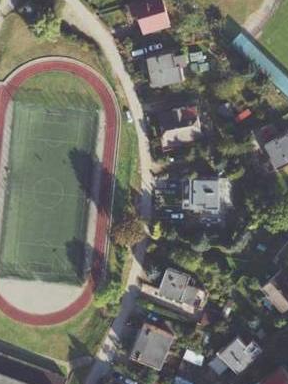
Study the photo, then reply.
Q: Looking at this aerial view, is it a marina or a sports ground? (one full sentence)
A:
This image shows a sports ground.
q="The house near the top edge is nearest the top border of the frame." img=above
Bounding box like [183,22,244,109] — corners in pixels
[130,0,172,36]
